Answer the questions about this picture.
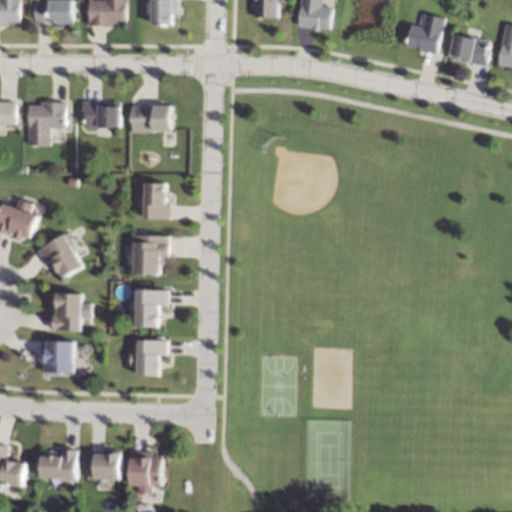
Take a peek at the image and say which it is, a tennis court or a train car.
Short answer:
tennis court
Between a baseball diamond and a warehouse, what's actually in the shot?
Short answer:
baseball diamond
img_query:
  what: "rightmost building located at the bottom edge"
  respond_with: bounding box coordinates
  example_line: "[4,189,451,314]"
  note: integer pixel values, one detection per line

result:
[124,456,162,490]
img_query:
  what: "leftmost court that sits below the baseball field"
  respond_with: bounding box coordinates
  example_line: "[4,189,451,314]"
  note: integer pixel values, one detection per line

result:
[261,356,298,416]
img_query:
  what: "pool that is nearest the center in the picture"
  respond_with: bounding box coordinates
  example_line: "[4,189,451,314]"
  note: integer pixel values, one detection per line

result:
[116,286,130,300]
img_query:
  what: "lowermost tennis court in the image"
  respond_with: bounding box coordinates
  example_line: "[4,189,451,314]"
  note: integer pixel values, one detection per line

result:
[306,420,352,502]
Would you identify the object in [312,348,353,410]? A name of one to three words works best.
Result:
sports court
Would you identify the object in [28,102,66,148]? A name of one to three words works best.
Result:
house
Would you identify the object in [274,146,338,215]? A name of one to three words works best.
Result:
baseball field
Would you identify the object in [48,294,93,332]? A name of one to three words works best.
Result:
house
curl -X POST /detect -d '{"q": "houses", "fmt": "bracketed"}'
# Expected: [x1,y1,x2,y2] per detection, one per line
[406,10,450,54]
[80,100,122,128]
[28,102,66,148]
[144,183,174,222]
[36,450,80,480]
[124,456,162,490]
[34,0,74,26]
[40,234,87,281]
[137,340,172,378]
[0,446,24,487]
[0,200,36,238]
[498,22,512,66]
[128,104,172,134]
[136,290,174,328]
[87,0,128,27]
[0,102,19,136]
[0,0,22,26]
[26,340,76,374]
[297,0,334,32]
[90,452,122,482]
[260,0,282,20]
[450,34,488,64]
[134,236,171,276]
[48,294,93,332]
[150,0,178,28]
